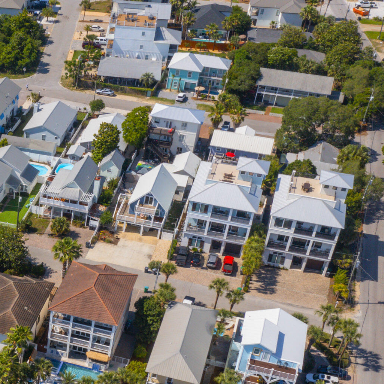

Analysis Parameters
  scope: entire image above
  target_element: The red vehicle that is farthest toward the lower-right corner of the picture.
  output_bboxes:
[222,256,235,273]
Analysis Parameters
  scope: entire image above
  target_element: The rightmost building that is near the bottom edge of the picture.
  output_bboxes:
[229,302,308,384]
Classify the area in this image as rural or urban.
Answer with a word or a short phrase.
urban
